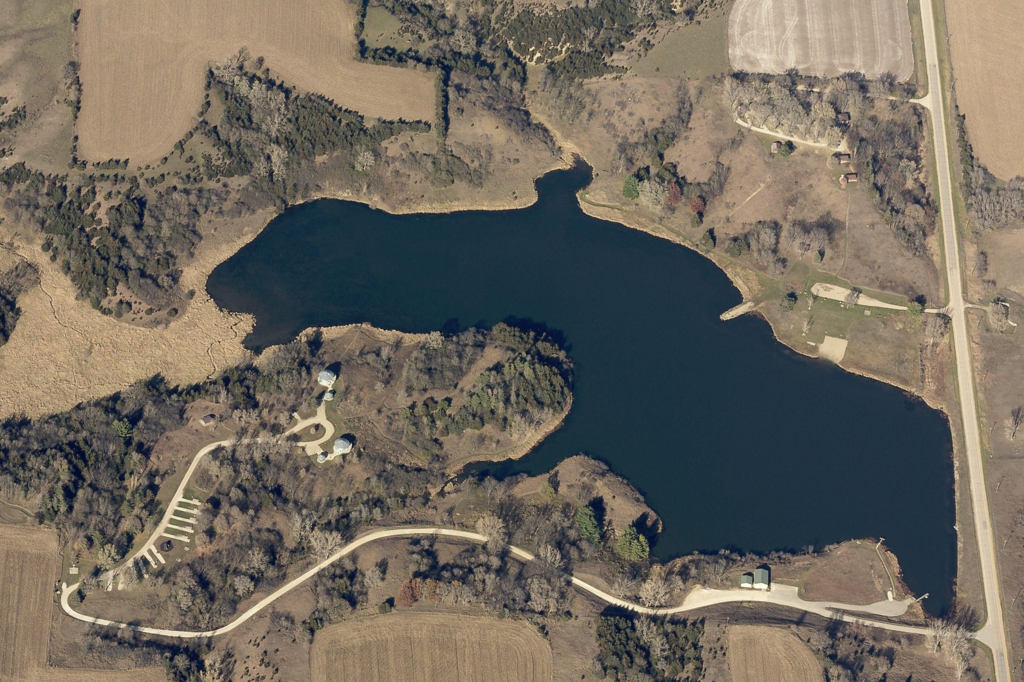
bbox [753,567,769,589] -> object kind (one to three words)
shed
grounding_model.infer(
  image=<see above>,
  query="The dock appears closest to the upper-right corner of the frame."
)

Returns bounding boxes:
[720,301,757,320]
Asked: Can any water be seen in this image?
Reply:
Yes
